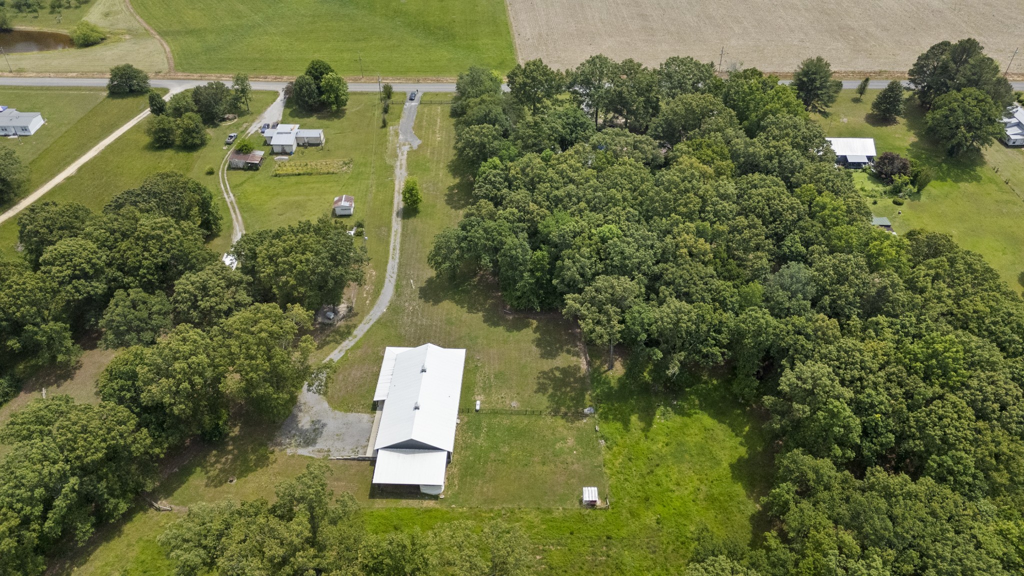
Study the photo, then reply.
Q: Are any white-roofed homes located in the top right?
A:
Yes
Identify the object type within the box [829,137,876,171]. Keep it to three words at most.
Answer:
house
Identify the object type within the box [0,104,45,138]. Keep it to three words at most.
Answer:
house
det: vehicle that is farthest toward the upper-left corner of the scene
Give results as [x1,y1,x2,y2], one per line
[222,132,242,144]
